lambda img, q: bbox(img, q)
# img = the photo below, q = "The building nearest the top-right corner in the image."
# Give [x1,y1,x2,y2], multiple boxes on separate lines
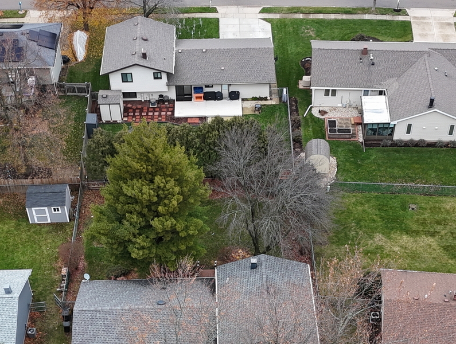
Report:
[304,40,456,143]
